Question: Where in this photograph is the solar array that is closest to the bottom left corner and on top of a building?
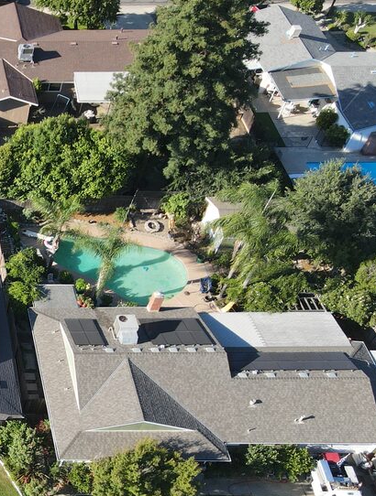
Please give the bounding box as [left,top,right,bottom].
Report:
[64,318,106,344]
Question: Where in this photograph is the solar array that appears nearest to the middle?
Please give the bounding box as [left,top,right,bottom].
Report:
[136,318,214,344]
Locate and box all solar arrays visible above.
[230,352,356,369]
[136,318,214,344]
[64,318,106,344]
